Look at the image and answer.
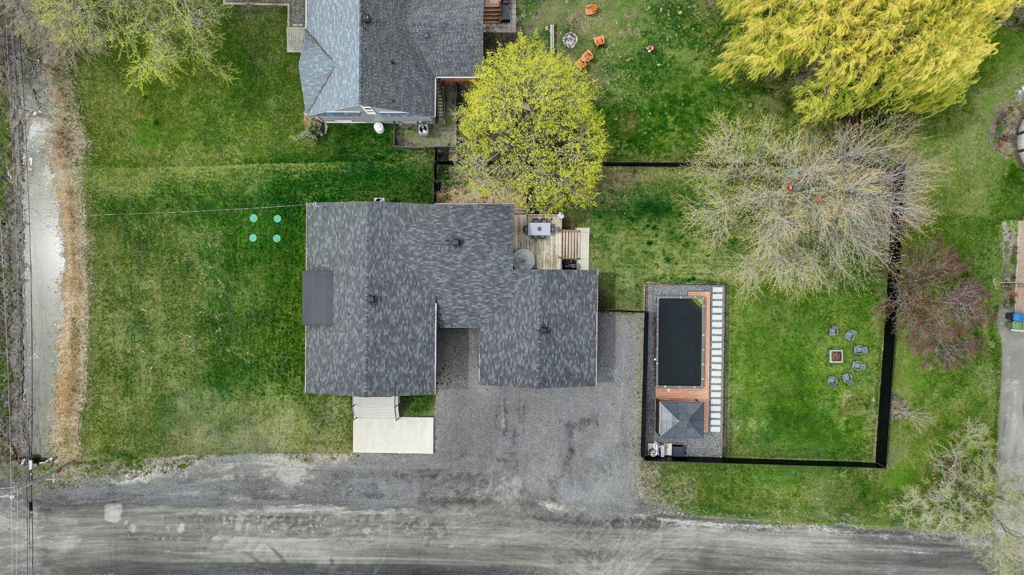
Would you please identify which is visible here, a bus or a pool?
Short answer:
pool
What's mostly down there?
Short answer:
grass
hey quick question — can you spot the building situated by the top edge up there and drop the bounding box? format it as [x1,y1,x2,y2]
[298,0,483,126]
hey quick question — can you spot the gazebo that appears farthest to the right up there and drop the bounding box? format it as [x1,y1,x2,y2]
[655,397,705,438]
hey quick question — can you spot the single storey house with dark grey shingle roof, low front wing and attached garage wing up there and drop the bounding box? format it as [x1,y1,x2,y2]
[302,200,599,398]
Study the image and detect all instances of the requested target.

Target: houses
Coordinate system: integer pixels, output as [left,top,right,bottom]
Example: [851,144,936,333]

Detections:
[298,0,483,126]
[302,200,599,398]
